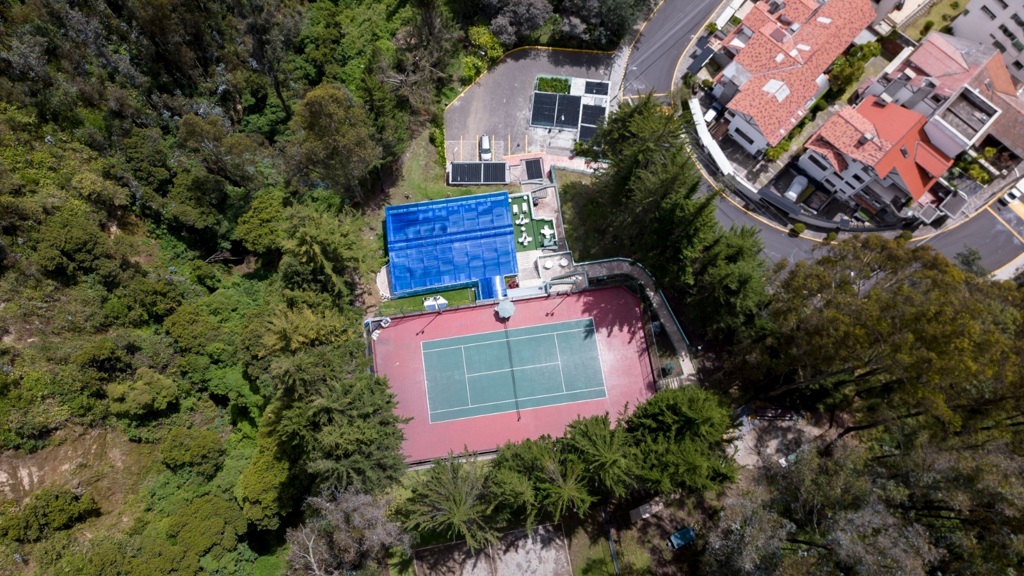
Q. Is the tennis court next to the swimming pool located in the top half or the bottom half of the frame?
bottom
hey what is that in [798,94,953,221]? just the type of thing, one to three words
house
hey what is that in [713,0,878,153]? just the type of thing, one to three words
house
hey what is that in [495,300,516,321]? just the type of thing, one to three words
umbrella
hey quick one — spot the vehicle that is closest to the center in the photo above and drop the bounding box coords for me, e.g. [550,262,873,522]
[478,133,493,162]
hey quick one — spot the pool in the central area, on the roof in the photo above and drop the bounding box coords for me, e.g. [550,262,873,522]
[389,199,513,289]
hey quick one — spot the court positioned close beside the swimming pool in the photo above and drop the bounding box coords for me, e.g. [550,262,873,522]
[373,290,657,465]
